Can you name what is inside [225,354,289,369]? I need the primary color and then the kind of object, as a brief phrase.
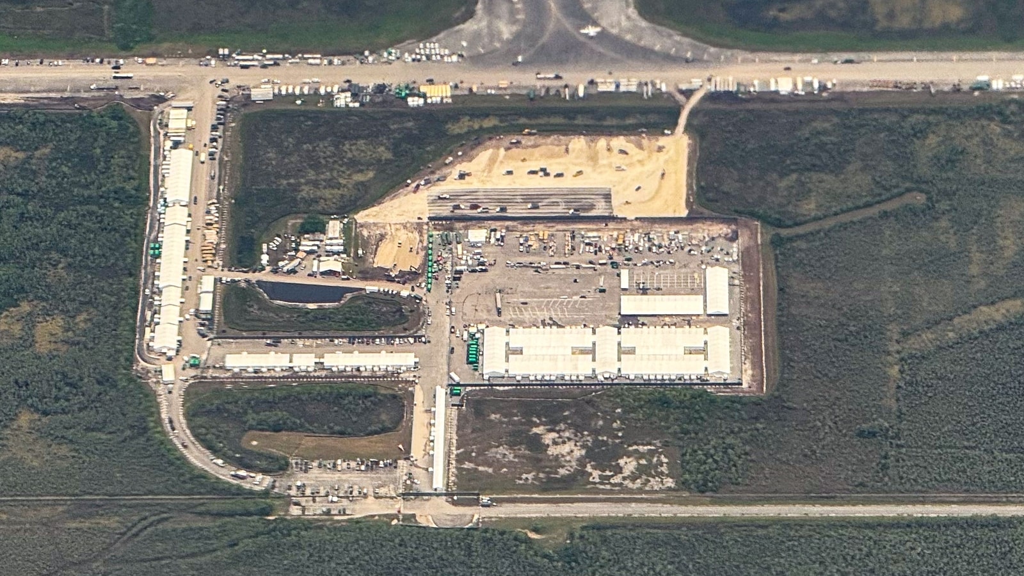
white tent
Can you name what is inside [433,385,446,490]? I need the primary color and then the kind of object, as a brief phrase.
white tent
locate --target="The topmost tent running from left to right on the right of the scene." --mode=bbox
[621,296,704,317]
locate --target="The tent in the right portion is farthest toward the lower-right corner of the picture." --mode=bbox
[708,326,730,377]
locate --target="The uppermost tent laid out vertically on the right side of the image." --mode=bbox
[706,266,729,317]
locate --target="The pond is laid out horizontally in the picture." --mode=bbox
[257,280,364,304]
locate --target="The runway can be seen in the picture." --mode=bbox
[0,61,1024,83]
